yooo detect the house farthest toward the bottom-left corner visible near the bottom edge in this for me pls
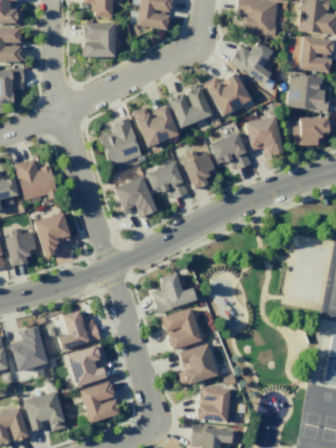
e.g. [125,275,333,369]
[0,407,28,446]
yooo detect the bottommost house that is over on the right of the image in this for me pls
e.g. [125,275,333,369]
[190,424,234,448]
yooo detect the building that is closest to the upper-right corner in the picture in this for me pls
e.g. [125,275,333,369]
[299,0,336,34]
